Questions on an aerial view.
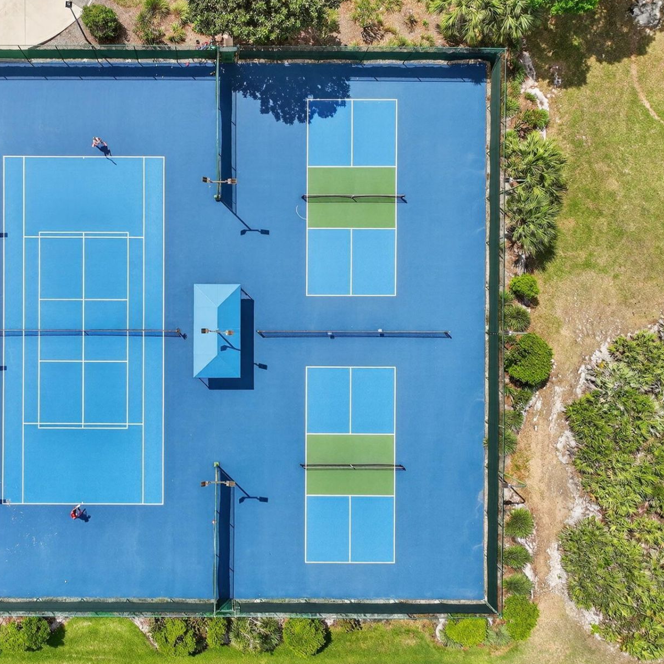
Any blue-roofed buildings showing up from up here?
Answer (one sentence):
Yes, a blue-roofed building appears in the view.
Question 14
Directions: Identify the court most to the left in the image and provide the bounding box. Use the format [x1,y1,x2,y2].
[2,155,165,505]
